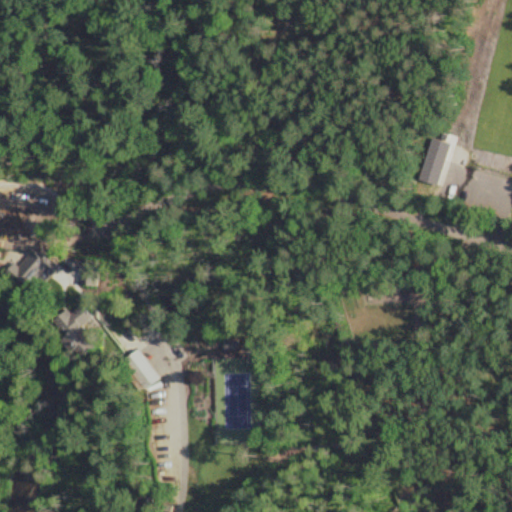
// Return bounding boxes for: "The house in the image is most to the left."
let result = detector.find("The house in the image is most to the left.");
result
[10,250,48,284]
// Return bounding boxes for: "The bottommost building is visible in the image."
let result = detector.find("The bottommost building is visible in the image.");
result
[125,349,160,388]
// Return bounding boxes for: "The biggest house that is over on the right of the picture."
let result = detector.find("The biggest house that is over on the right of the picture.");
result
[418,138,456,187]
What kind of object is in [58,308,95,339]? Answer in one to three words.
house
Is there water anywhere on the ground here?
No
